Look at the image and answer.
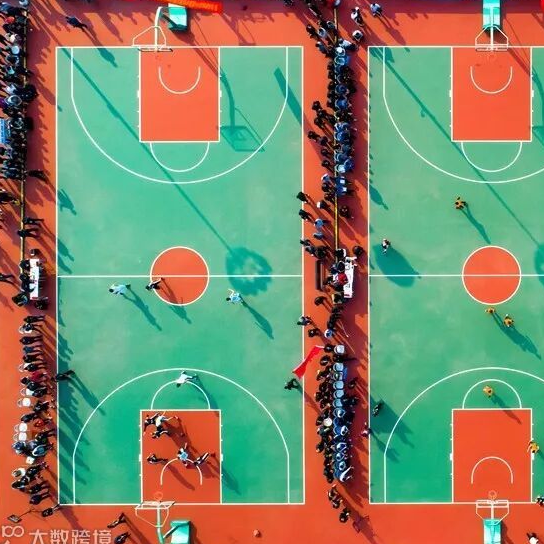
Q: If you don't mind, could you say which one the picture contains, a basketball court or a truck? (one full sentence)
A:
The one in the frame is a basketball court.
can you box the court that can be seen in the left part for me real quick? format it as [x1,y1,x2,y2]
[55,46,305,506]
